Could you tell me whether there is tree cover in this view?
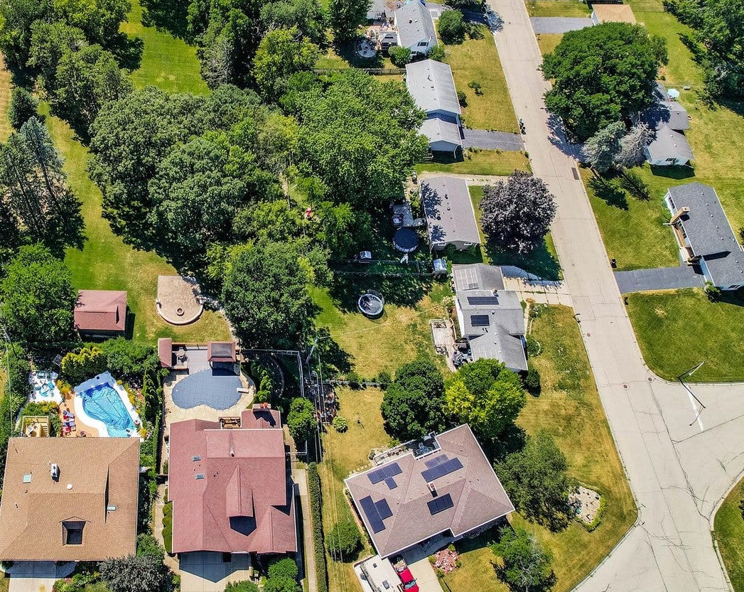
Yes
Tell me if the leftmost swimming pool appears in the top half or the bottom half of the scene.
bottom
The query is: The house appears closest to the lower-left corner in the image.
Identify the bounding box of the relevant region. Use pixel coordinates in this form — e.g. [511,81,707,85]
[0,437,143,561]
